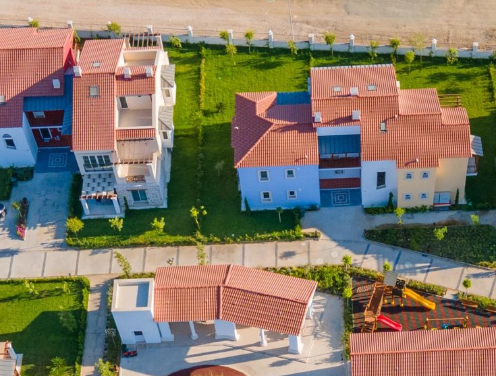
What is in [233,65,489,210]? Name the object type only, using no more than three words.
house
